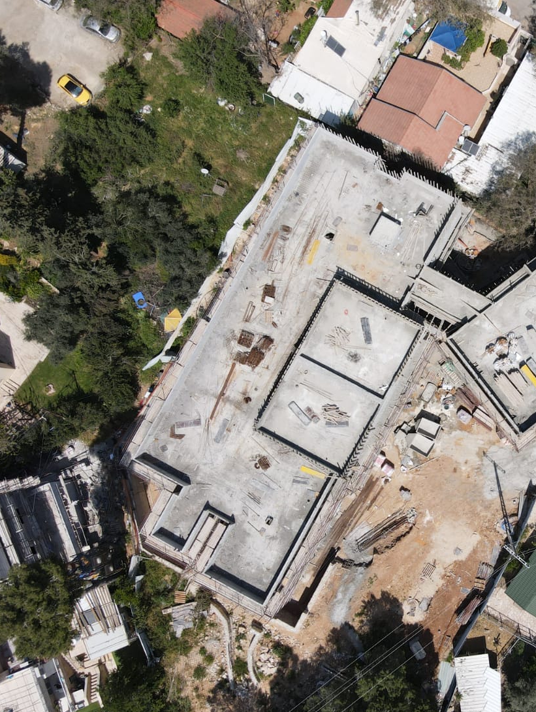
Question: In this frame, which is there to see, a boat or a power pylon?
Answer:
power pylon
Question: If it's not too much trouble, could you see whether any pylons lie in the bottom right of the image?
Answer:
Yes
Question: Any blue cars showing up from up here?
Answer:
No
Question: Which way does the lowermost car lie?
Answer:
at an angle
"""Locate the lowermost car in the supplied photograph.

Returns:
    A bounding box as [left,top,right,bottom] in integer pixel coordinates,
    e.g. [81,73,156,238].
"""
[54,69,95,107]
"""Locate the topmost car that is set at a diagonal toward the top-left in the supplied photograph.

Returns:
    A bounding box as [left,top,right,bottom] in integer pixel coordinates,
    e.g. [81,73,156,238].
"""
[78,10,124,48]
